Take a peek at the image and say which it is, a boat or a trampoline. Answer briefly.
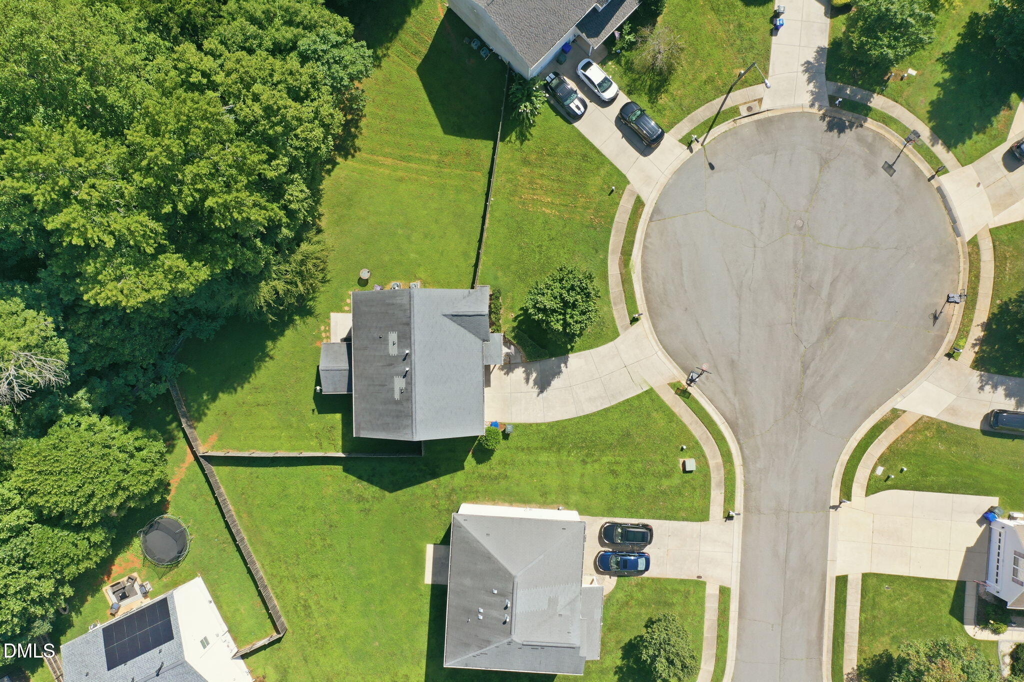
trampoline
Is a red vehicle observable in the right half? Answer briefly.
No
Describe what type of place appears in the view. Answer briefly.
residential area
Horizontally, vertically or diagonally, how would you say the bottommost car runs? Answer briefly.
horizontally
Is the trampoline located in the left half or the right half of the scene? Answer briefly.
left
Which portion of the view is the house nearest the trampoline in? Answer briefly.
bottom left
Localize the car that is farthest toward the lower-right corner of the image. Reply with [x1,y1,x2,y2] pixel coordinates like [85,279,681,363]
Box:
[988,410,1024,434]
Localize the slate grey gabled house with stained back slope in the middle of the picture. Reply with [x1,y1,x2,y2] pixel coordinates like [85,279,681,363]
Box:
[319,284,505,440]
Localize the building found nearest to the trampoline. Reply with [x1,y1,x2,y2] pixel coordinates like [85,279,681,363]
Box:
[60,578,242,682]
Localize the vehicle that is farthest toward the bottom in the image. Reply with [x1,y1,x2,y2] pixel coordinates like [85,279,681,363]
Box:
[597,550,651,576]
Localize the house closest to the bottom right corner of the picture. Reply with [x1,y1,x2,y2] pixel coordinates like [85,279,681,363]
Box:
[989,521,1024,608]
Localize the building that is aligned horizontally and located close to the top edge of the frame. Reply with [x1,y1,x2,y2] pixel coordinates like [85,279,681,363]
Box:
[447,0,641,80]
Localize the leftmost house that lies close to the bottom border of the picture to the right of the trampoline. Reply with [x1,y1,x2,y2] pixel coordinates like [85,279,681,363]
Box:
[443,505,605,676]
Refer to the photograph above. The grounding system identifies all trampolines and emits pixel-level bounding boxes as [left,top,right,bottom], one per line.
[138,514,193,567]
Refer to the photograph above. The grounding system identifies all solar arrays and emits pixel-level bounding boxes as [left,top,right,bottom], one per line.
[102,597,173,670]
